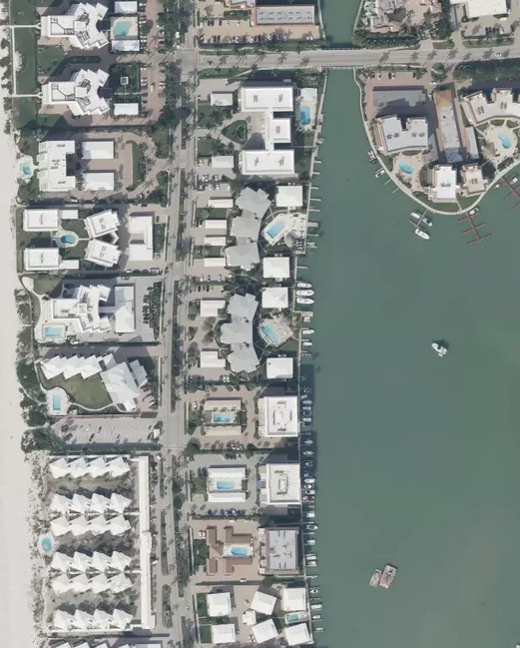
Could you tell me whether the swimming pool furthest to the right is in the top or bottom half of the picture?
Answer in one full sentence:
Seen from above, the swimming pool furthest to the right lies in the top half of the view.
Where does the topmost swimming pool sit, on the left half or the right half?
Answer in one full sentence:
You can find the topmost swimming pool on the left side of the picture.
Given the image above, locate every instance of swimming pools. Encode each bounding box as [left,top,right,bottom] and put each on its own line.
[224,545,253,557]
[208,478,245,492]
[54,230,78,250]
[34,293,68,342]
[286,612,309,625]
[299,97,316,131]
[43,389,70,416]
[261,213,307,253]
[394,154,423,195]
[487,120,520,157]
[37,533,55,554]
[15,152,34,183]
[260,315,294,347]
[111,14,138,36]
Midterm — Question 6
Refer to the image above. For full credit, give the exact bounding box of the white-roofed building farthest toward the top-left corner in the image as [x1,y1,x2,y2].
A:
[45,2,109,53]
